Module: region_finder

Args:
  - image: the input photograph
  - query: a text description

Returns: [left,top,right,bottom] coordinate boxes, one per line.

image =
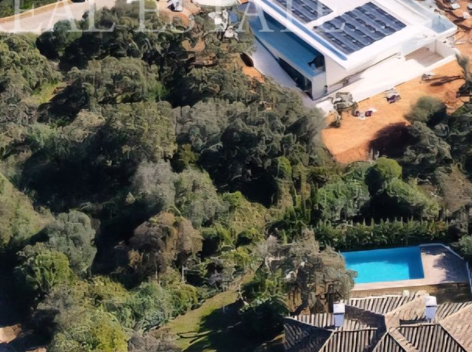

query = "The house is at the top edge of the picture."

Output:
[246,0,459,112]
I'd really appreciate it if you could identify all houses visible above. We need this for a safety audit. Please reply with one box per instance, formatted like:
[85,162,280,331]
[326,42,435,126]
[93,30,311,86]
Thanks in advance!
[269,290,472,352]
[246,0,459,112]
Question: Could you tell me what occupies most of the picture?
trees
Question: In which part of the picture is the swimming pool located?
bottom right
